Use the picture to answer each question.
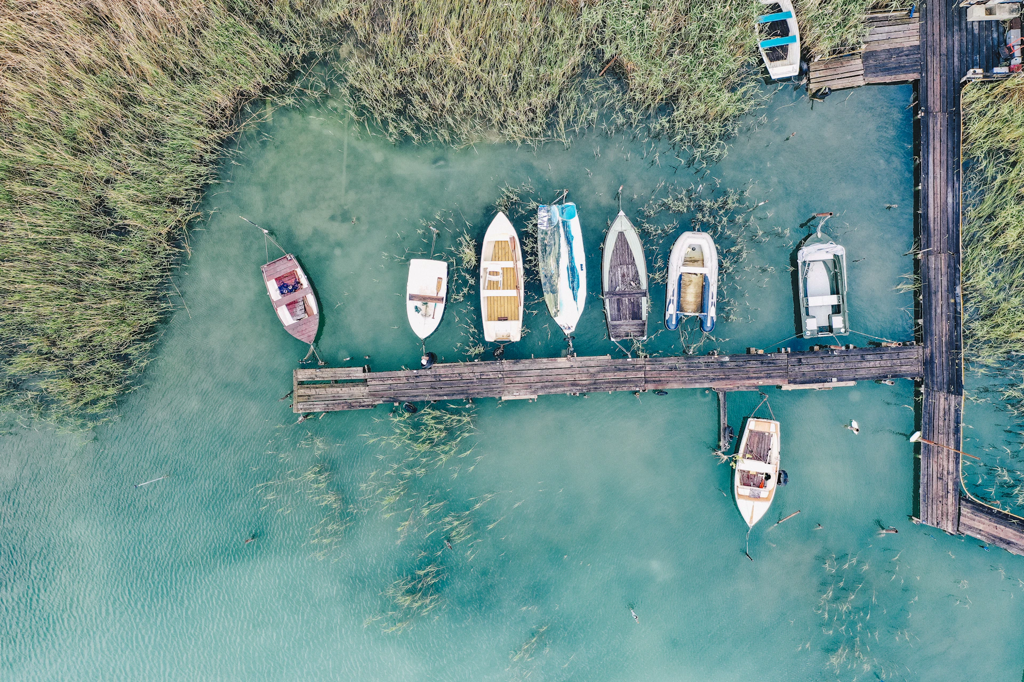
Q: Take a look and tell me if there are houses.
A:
No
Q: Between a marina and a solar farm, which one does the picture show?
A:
marina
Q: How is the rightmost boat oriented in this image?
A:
from top to bottom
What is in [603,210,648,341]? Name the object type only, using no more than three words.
boat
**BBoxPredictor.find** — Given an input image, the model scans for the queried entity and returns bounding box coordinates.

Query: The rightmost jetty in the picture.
[958,498,1024,557]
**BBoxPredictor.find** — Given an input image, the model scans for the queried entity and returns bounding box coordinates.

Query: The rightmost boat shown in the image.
[796,231,849,339]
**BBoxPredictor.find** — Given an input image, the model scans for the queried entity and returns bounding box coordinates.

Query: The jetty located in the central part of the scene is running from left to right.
[293,346,923,413]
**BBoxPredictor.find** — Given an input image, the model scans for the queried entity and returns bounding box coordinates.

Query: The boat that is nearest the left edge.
[261,254,320,344]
